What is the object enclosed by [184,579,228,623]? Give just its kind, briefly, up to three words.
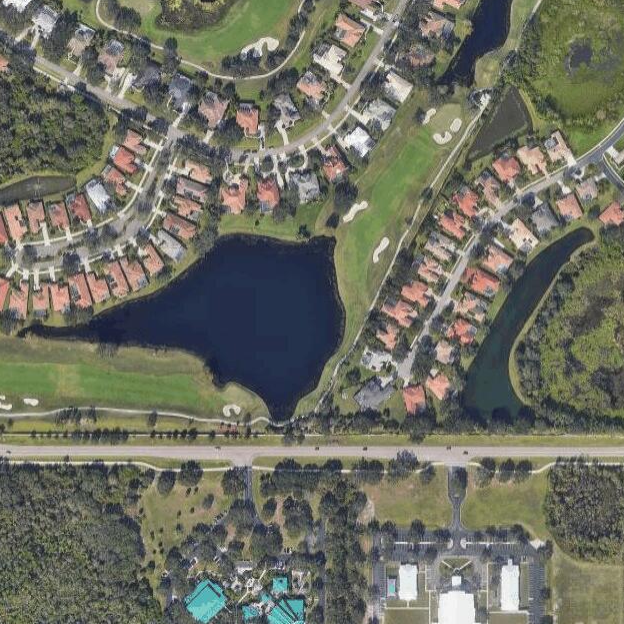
building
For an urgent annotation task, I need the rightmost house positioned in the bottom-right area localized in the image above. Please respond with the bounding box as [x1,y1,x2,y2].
[501,559,520,610]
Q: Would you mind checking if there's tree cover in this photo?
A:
Yes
